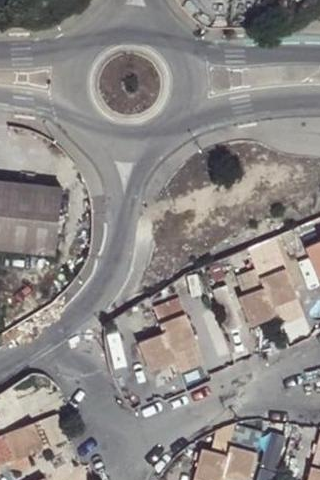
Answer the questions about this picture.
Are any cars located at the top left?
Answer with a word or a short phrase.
No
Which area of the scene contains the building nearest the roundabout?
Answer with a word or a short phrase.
left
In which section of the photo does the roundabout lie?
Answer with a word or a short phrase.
top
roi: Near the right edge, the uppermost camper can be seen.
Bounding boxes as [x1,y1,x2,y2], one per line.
[300,258,320,289]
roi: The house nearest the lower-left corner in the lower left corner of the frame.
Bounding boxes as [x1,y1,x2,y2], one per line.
[0,412,71,471]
